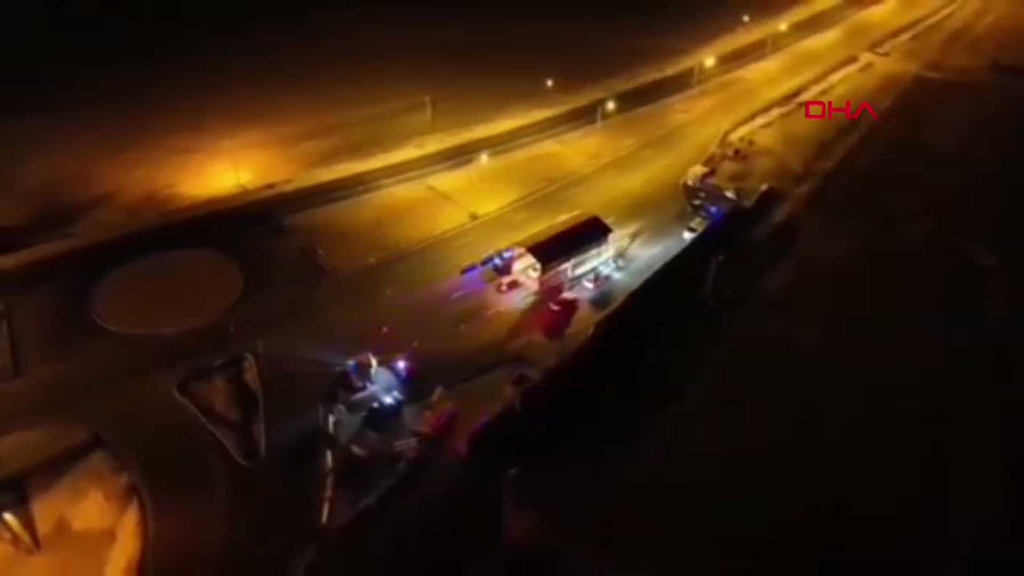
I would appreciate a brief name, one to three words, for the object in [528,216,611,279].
trailer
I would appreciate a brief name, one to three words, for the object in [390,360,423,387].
car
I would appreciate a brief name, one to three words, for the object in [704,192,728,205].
vehicle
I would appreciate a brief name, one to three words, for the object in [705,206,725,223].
car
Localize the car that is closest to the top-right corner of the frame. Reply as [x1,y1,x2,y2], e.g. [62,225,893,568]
[755,183,772,197]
